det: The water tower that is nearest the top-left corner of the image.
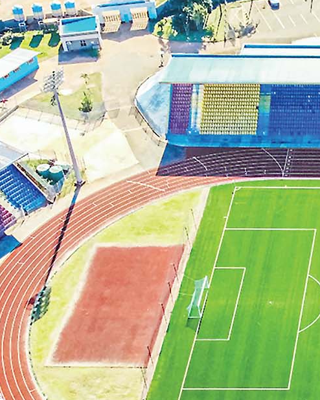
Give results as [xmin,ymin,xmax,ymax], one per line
[9,0,29,32]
